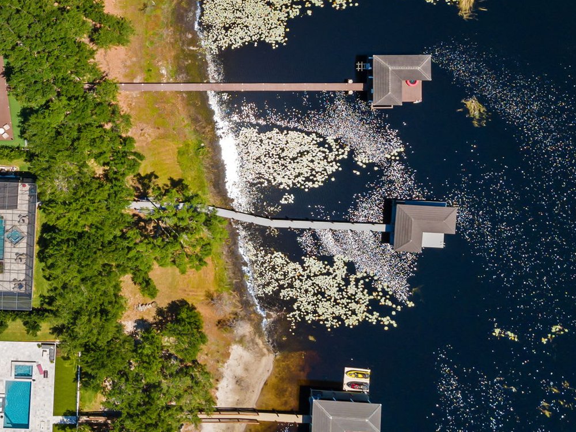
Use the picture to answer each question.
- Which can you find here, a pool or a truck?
pool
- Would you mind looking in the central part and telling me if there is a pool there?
No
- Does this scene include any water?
Yes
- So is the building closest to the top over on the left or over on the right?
right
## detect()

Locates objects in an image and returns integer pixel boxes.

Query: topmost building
[363,54,432,108]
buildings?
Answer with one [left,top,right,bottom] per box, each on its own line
[298,387,383,432]
[381,200,459,253]
[363,54,432,108]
